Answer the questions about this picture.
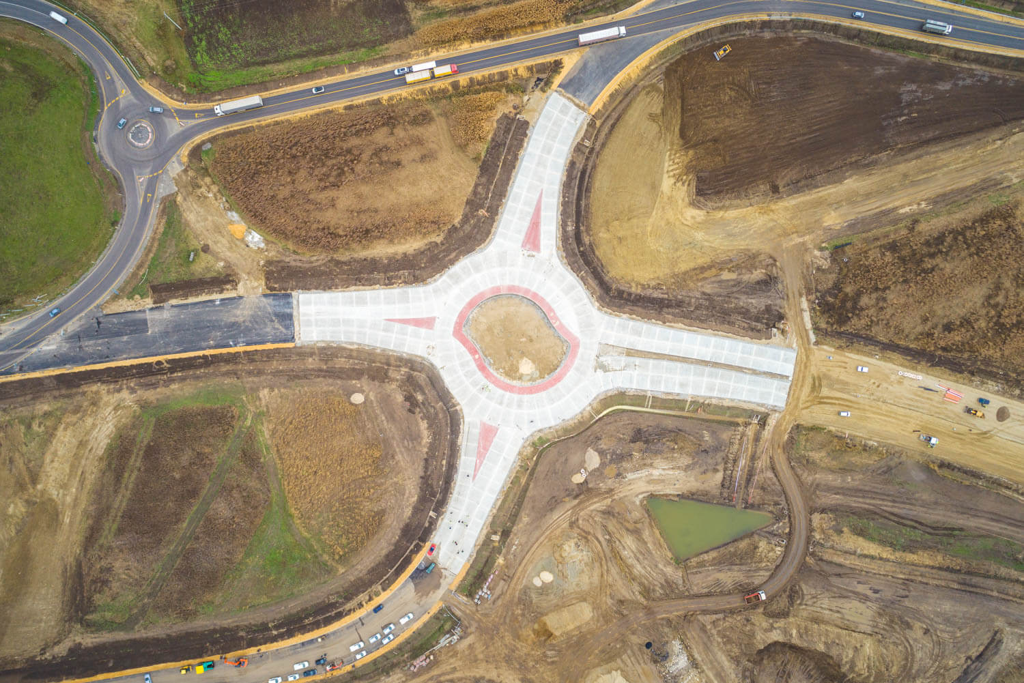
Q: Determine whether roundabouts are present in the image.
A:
Yes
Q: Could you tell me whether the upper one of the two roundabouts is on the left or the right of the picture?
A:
left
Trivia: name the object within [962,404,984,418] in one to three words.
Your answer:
work vehicle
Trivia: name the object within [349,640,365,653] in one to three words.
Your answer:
vehicle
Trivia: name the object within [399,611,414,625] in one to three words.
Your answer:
vehicle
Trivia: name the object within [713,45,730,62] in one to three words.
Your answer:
work vehicle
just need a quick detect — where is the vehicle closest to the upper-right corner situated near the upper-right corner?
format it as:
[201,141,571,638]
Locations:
[920,20,952,36]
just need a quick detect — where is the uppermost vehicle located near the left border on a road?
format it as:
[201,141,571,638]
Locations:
[48,9,71,26]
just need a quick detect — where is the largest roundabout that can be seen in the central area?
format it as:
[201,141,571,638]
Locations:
[386,190,627,481]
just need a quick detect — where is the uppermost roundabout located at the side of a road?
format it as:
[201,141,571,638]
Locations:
[99,86,192,179]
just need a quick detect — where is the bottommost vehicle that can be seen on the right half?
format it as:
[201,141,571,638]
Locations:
[744,591,766,605]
